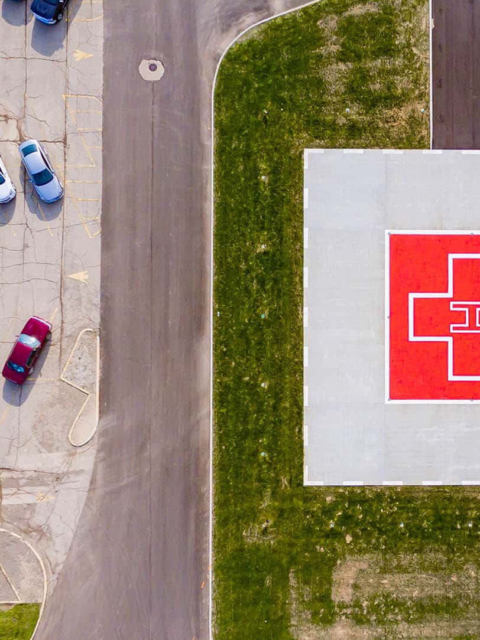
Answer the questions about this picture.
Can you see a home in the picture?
No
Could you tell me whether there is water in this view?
No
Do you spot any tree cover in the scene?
No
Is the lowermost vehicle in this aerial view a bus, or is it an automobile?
automobile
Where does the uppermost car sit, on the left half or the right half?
left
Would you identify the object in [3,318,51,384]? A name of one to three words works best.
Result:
car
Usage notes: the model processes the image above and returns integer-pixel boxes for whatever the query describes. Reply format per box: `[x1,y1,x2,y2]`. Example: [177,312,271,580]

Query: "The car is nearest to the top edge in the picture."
[33,0,69,27]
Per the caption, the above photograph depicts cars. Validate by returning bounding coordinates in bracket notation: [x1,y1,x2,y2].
[3,318,51,384]
[33,0,69,27]
[22,140,63,203]
[0,151,16,203]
